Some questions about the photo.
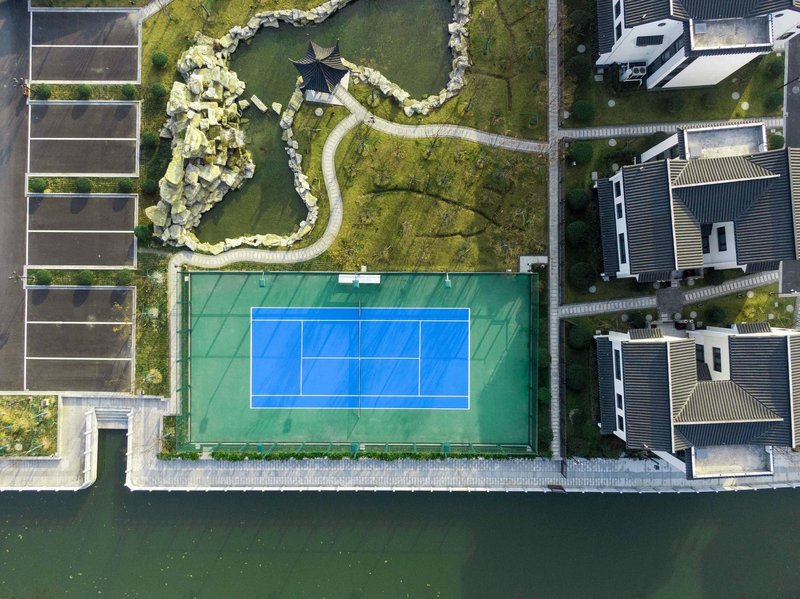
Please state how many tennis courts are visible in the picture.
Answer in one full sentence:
Only 1 tennis court is visible.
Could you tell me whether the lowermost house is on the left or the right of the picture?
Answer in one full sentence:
The lowermost house sits on the right side.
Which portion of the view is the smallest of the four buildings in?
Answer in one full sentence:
The smallest of the four buildings is located in the top region of the scene.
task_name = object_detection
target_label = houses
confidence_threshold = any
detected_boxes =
[590,0,800,87]
[589,321,800,476]
[585,123,800,281]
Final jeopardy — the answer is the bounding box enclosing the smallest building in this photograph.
[283,28,354,106]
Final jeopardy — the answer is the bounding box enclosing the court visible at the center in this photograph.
[188,273,533,445]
